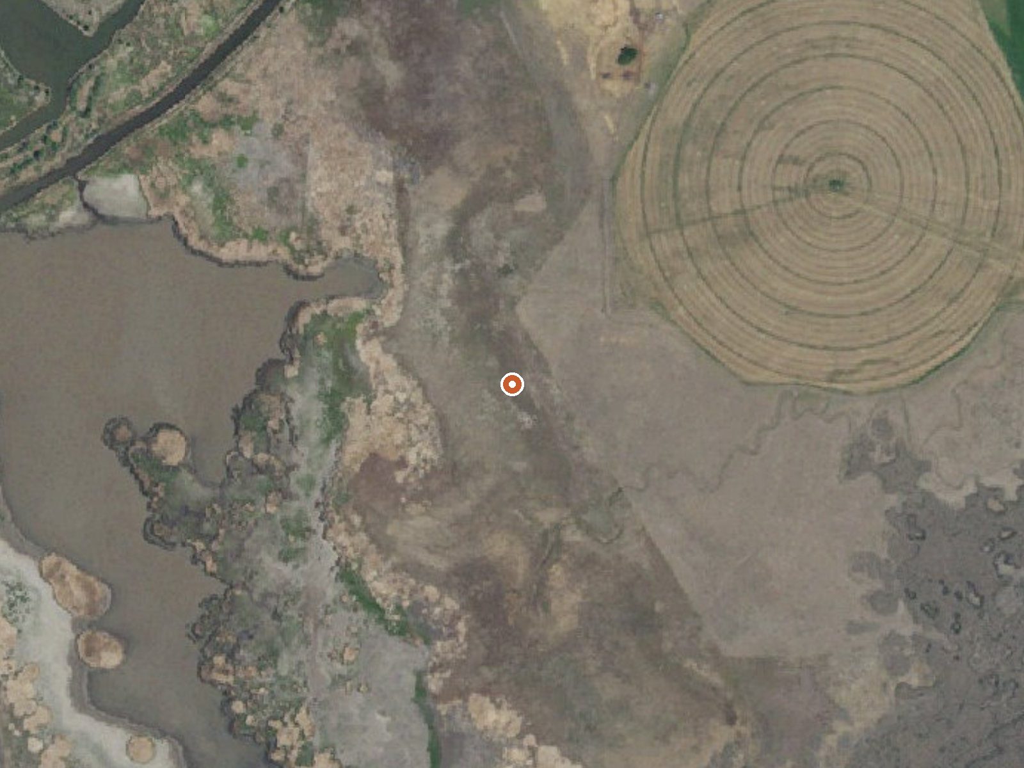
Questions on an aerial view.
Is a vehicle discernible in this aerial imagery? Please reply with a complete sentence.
No, the frame has no vehicle in it.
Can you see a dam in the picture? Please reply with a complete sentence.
No, the scene contains no dam.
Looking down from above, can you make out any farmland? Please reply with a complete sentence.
Yes, there's farmland in this view.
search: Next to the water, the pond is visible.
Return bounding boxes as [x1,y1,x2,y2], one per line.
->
[0,0,145,152]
